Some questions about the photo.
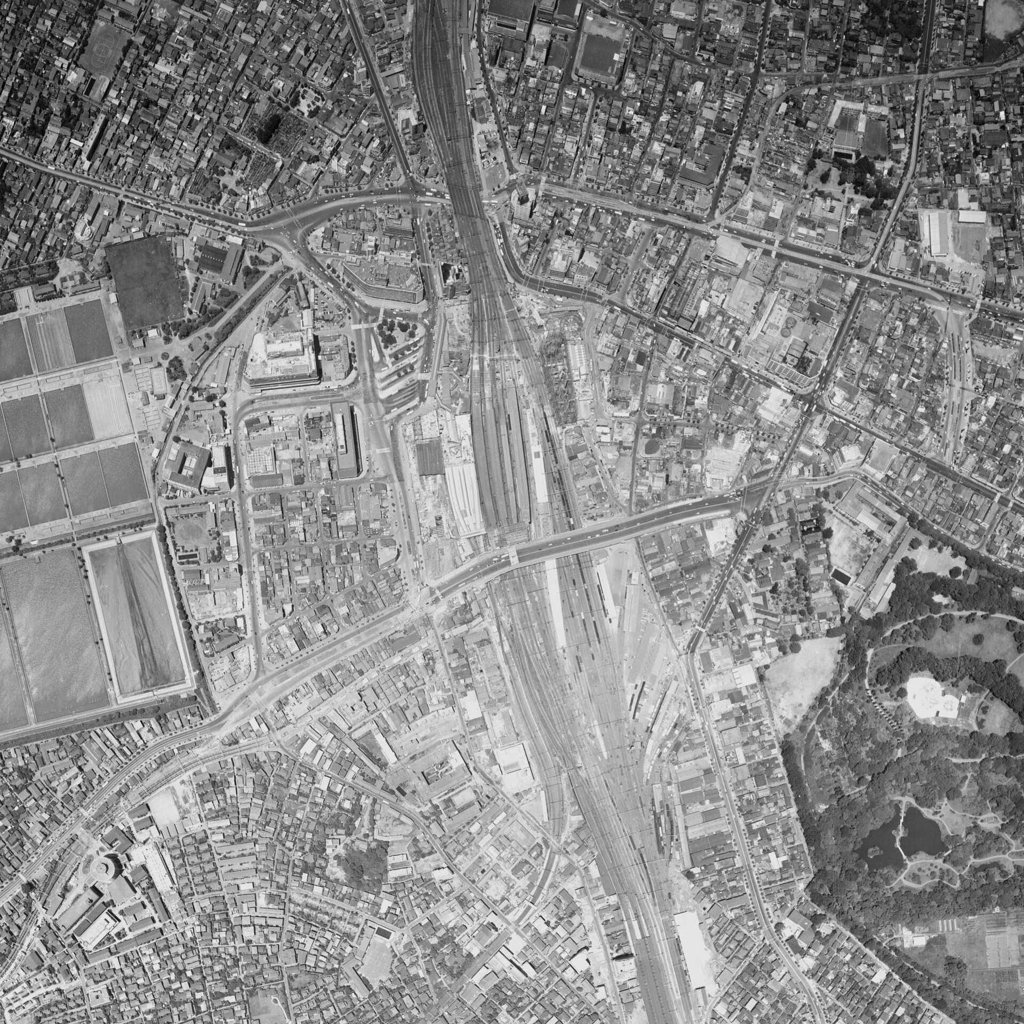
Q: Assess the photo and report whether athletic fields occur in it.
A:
Yes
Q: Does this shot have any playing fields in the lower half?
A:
No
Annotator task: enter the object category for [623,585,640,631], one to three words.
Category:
shed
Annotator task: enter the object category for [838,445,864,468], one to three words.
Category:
building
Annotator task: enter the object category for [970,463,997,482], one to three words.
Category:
building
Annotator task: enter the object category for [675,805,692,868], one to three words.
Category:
shed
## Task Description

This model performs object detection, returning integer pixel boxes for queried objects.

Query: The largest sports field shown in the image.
[104,236,184,331]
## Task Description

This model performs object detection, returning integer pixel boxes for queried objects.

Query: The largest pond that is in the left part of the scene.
[81,529,195,704]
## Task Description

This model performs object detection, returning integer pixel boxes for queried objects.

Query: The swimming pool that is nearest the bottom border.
[374,926,392,941]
